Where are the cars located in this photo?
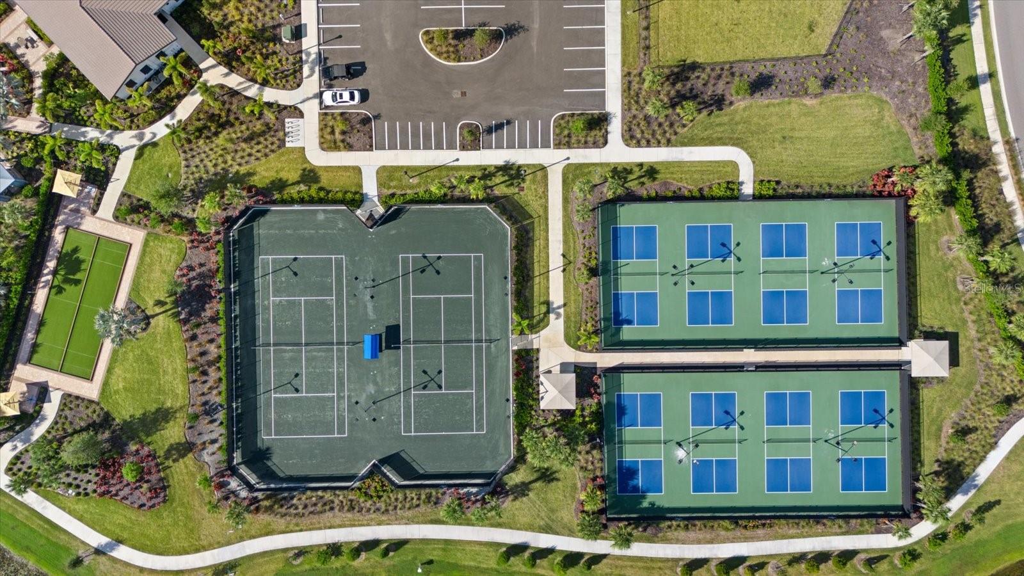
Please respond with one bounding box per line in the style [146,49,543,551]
[320,62,352,81]
[322,88,360,106]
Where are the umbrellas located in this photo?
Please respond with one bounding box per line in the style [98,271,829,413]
[53,169,96,197]
[0,391,37,417]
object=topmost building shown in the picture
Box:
[18,0,185,103]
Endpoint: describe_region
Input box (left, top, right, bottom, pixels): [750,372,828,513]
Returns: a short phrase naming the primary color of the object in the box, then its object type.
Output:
green sports court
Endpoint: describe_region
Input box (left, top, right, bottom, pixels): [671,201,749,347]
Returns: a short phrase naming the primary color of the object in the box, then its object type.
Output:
green sports court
